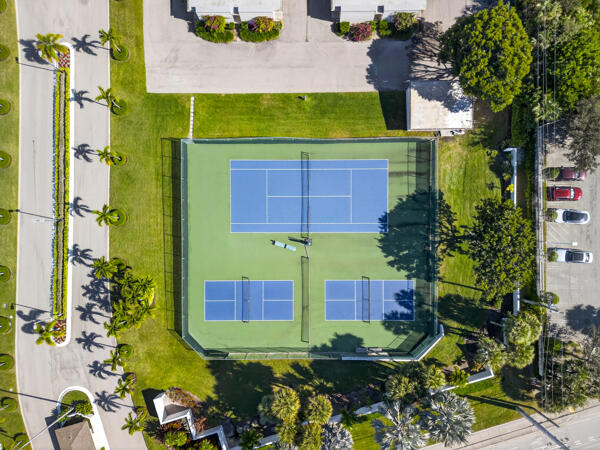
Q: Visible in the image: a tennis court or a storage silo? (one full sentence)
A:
There is a tennis court in the scene.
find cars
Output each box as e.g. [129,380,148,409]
[555,209,589,224]
[550,168,581,182]
[551,185,581,200]
[556,248,590,263]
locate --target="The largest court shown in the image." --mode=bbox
[187,142,431,352]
